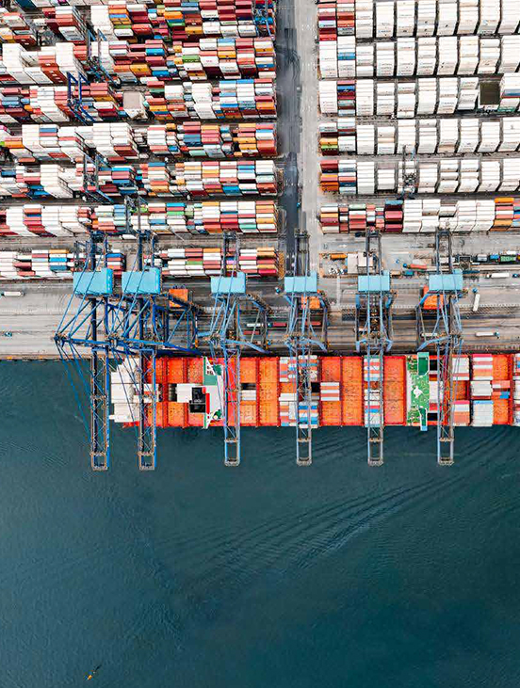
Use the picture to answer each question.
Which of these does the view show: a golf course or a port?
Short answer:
port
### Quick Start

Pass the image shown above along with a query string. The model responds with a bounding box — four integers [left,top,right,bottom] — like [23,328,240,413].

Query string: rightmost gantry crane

[408,230,466,468]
